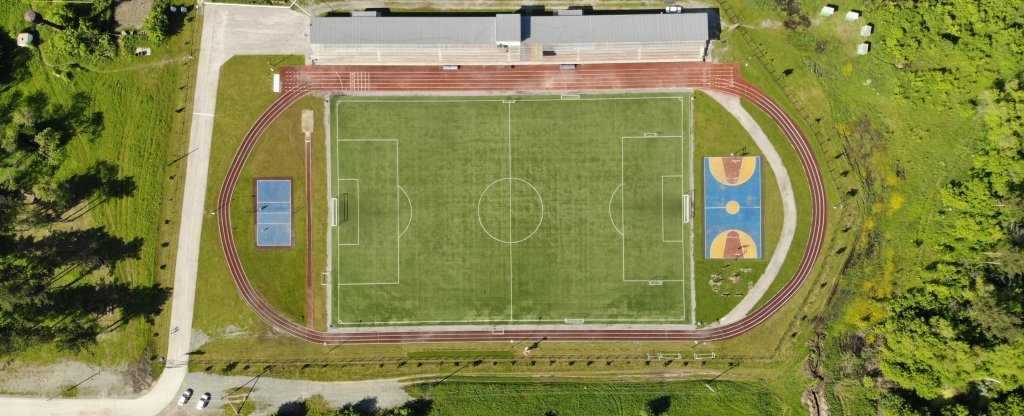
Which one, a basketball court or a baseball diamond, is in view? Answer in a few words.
basketball court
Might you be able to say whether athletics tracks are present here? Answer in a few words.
Yes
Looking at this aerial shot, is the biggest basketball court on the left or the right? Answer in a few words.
right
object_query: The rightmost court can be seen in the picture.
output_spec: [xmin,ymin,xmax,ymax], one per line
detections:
[702,155,764,261]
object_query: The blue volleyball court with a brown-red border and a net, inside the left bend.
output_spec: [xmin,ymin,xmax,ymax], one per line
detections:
[254,178,295,250]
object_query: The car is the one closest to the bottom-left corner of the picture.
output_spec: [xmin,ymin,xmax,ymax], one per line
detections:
[176,390,190,406]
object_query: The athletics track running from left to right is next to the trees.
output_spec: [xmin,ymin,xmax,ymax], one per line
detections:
[217,62,827,345]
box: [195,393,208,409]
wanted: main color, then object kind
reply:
white vehicle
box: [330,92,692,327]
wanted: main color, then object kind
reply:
green soccer field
